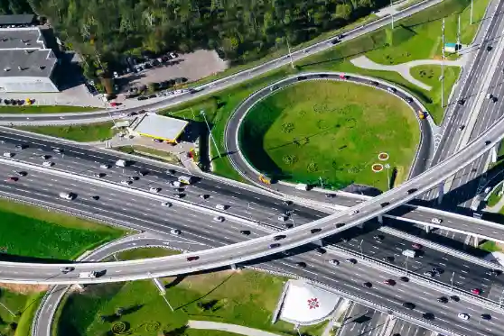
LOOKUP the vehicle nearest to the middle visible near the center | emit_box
[255,172,273,185]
